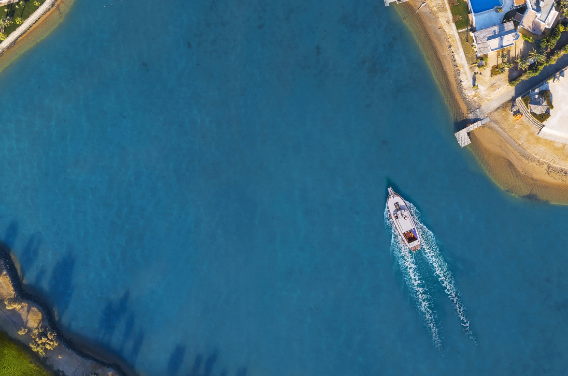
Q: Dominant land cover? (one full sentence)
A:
What you mostly see from above here is water.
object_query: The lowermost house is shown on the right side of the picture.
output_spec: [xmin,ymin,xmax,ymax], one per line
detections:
[473,21,520,56]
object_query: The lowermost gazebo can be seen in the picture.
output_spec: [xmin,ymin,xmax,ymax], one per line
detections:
[526,96,549,115]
